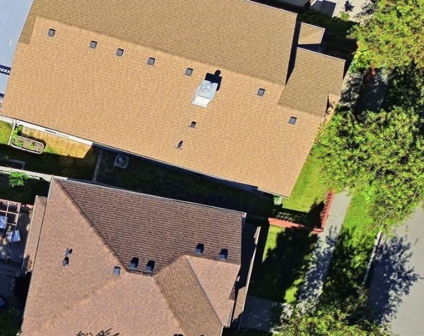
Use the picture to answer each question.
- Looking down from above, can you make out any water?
No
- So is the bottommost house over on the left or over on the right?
left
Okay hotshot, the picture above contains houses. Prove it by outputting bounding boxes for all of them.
[1,0,346,197]
[21,177,261,336]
